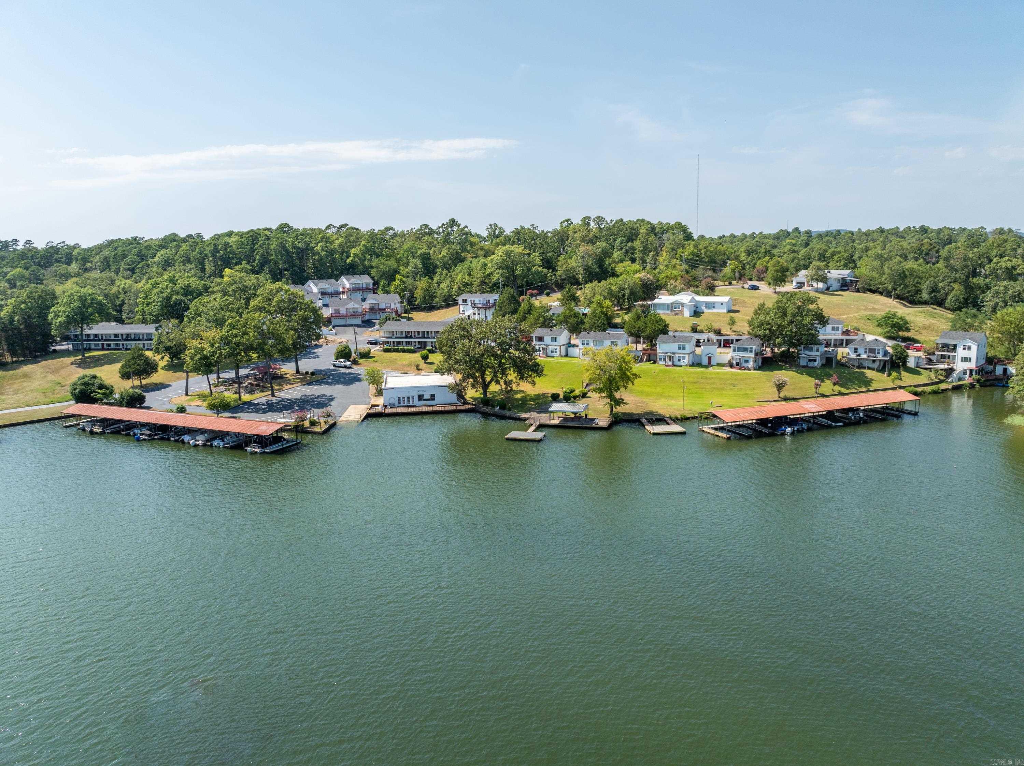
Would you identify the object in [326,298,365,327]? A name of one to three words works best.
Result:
house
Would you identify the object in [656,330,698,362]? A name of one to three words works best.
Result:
house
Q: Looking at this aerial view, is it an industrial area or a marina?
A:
marina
